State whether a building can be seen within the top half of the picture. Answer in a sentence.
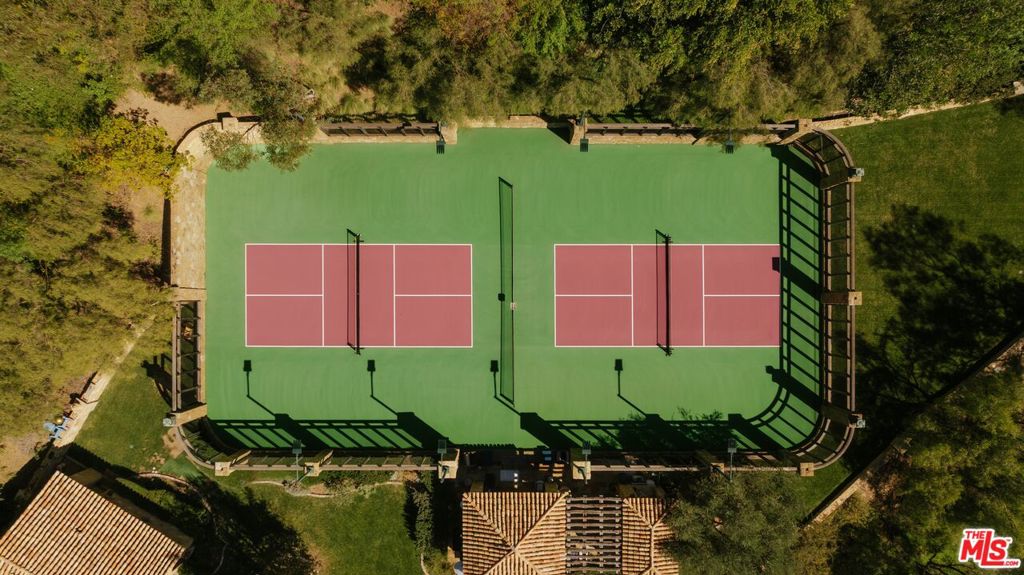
No, I see no building within the top half of the picture.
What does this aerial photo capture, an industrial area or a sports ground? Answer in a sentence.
It's a sports ground.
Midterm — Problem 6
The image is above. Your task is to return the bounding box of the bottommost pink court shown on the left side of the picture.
[245,243,472,348]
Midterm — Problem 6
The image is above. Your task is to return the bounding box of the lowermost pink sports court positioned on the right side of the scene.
[553,244,781,348]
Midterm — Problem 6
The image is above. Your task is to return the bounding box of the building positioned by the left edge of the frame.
[0,466,205,575]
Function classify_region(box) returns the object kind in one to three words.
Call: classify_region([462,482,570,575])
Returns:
building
